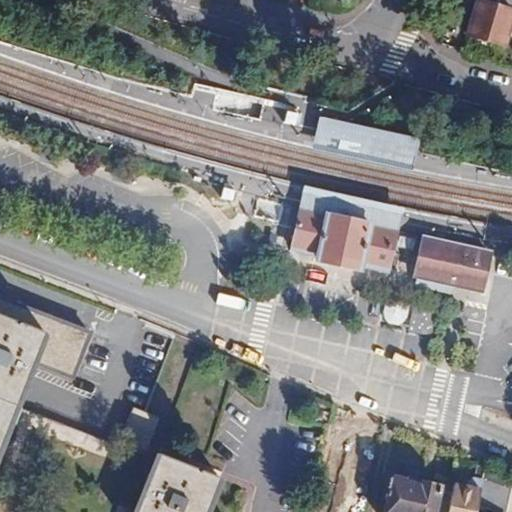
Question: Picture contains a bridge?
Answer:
No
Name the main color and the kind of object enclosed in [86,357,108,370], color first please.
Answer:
white vehicle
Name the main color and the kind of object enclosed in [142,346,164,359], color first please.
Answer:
white vehicle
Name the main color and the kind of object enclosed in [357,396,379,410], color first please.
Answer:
white car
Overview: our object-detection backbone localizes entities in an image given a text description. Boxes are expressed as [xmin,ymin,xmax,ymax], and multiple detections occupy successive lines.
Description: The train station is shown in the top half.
[0,42,512,237]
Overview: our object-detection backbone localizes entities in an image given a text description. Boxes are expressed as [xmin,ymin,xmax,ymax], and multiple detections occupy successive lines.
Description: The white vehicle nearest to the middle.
[215,292,252,312]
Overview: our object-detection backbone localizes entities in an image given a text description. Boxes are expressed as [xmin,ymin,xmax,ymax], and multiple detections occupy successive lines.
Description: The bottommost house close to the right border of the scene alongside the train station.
[414,234,494,298]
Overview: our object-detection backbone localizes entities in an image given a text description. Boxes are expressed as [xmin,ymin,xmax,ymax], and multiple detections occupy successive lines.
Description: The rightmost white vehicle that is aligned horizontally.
[490,72,510,84]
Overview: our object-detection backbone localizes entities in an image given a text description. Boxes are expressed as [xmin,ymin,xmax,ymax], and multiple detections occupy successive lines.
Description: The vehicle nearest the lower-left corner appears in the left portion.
[72,378,94,392]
